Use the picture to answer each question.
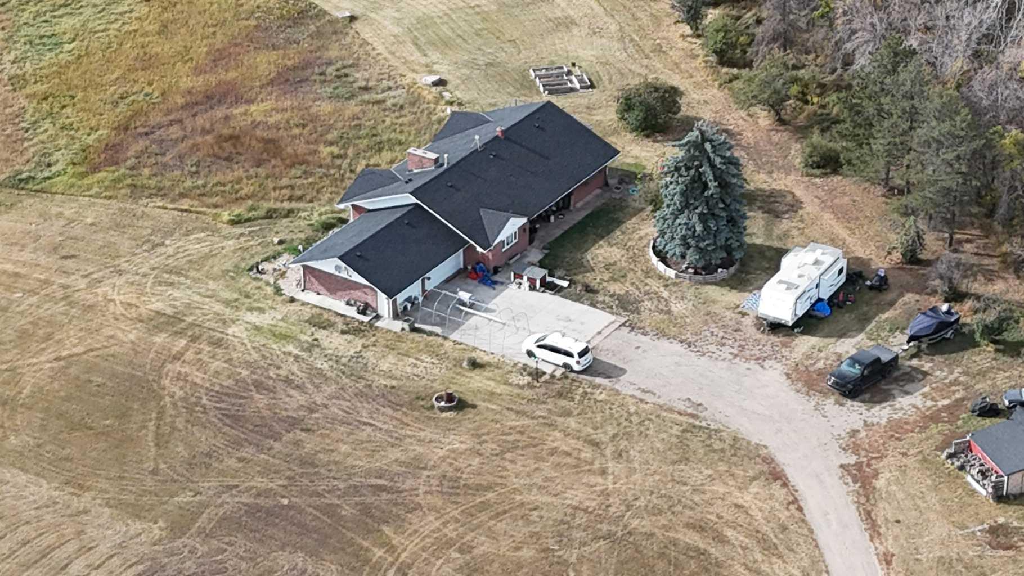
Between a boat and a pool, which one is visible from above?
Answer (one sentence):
The one in the frame is a boat.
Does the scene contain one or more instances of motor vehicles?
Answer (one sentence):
Yes, there is a motor vehicle in the image.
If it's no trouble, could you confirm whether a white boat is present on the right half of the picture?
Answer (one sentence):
No, looking on the right half of the picture, there is no white boat.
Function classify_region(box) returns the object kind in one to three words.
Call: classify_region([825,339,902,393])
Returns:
truck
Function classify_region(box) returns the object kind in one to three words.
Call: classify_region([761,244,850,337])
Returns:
vehicle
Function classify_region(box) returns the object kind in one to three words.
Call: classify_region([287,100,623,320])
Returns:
house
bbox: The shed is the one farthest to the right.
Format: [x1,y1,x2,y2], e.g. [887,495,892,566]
[966,412,1024,498]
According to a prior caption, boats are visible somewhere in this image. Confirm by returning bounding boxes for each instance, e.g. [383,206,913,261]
[906,297,965,342]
